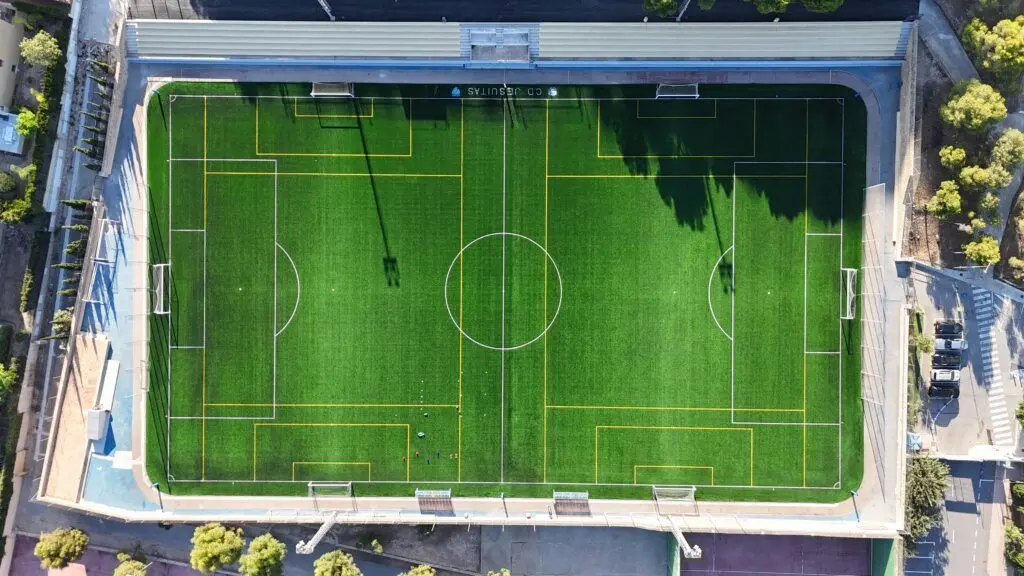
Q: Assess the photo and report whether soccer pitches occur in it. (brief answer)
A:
Yes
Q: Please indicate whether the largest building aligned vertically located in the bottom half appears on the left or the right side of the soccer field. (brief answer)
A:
on its left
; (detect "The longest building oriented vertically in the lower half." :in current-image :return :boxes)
[47,335,111,503]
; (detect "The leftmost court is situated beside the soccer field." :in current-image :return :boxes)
[481,526,667,576]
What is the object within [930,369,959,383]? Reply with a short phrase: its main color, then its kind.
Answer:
white car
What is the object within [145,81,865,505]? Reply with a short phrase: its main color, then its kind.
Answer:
green soccer field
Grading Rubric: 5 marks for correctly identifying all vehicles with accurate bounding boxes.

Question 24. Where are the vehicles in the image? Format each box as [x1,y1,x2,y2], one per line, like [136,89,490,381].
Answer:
[933,324,961,338]
[928,385,958,399]
[934,339,966,353]
[931,353,960,367]
[930,369,959,383]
